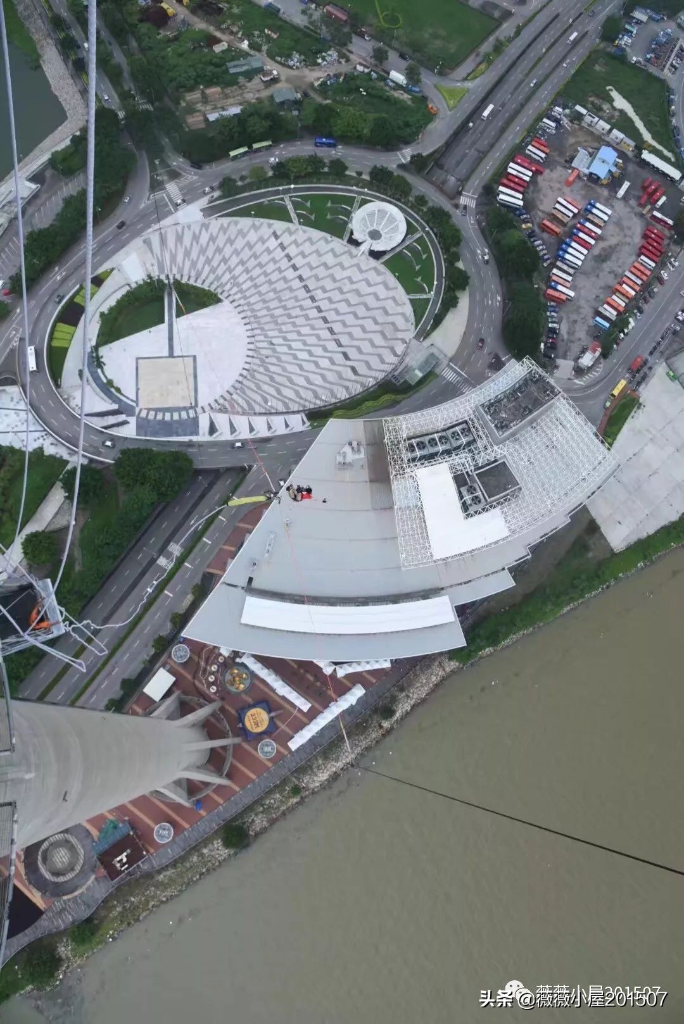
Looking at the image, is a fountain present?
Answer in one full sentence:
Yes, there's a fountain down there.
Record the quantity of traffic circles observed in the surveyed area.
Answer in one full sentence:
In total, 1 traffic circle can be seen.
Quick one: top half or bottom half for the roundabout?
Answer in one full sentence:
The roundabout is in the top half of the image.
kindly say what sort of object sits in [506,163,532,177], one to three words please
vehicle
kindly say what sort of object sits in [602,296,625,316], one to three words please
bus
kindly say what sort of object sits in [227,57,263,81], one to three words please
shed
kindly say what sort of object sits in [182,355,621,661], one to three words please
building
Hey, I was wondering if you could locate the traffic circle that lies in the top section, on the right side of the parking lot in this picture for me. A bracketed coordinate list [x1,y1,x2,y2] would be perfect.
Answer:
[49,182,446,439]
